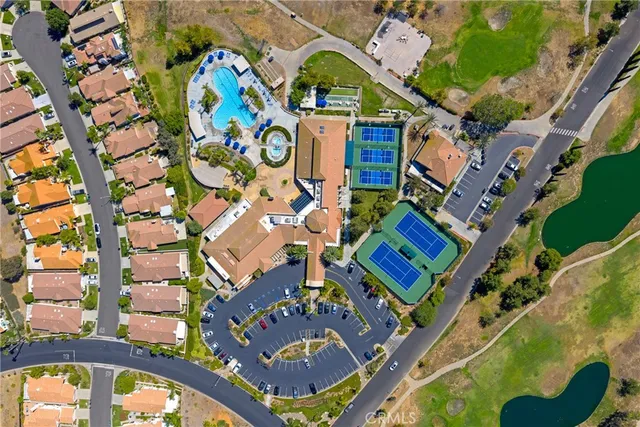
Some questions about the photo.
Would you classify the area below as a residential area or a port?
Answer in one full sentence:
The area seen from above is a residential area.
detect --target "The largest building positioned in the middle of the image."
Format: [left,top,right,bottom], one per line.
[203,119,347,291]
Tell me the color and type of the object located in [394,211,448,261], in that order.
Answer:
blue tennis court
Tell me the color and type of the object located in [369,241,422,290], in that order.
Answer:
blue tennis court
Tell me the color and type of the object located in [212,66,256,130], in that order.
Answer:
blue swimming pool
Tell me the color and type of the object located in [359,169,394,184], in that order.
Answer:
blue sports court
